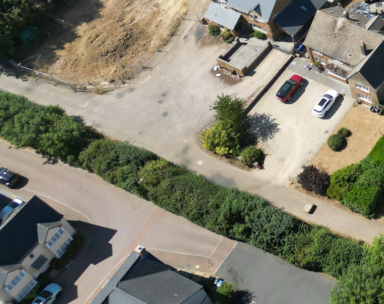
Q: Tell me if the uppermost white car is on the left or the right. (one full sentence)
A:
The uppermost white car sits on the right side.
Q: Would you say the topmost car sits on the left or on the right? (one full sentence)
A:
You can find the topmost car on the right side of the picture.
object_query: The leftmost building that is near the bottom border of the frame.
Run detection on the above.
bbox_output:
[0,194,78,304]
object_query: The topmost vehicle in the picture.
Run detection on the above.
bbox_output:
[277,76,304,103]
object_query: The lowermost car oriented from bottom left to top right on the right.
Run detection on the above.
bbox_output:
[311,91,339,119]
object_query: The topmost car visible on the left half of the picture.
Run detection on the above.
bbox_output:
[0,170,24,190]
